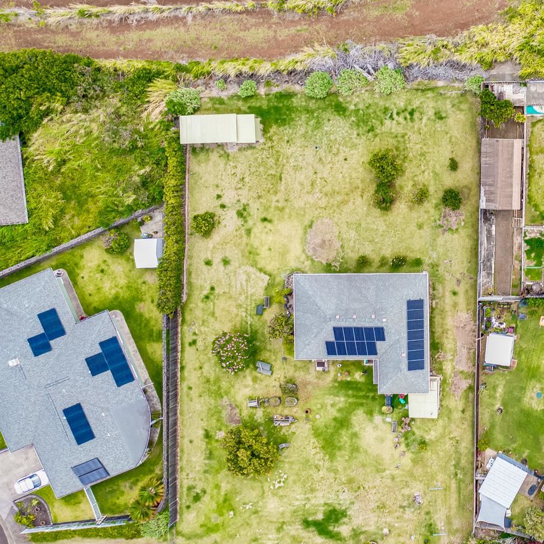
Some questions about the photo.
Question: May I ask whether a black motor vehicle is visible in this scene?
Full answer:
No, the photo shows no black motor vehicle.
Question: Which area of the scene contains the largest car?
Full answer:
The largest car appears toward the bottom left of the photo.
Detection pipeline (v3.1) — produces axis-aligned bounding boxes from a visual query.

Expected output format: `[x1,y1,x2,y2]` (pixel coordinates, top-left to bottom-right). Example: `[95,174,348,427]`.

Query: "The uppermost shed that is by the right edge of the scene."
[480,137,522,210]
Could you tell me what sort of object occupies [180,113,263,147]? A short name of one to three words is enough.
shed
